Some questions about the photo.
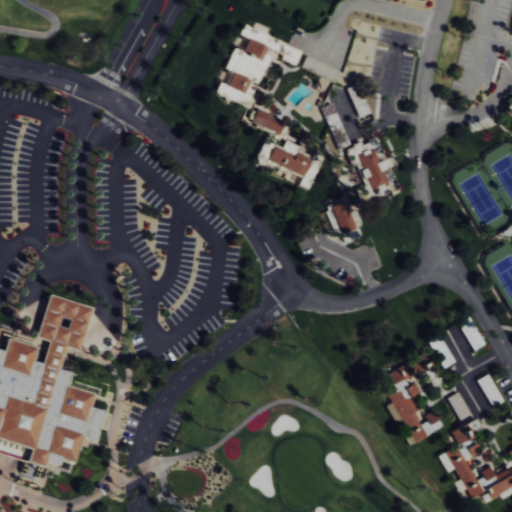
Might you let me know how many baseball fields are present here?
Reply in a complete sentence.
There are no baseball fields in the image.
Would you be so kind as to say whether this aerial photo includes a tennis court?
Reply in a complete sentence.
Yes, the image includes a tennis court.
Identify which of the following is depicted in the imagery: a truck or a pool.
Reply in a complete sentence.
The image shows a pool.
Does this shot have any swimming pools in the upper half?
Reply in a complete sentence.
Yes, a swimming pool shows up in the upper half.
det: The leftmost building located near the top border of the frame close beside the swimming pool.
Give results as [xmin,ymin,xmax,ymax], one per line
[216,22,304,108]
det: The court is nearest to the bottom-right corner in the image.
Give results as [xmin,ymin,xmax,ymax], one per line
[487,242,512,310]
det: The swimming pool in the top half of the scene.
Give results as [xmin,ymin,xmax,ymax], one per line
[285,76,323,121]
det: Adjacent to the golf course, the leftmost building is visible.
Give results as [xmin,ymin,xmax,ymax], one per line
[0,294,106,467]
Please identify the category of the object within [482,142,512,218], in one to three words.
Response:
tennis court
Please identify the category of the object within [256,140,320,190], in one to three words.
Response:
house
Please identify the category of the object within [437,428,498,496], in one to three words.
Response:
house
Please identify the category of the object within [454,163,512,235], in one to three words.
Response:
tennis court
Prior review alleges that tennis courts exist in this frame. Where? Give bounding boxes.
[487,242,512,310]
[454,163,512,235]
[482,142,512,218]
